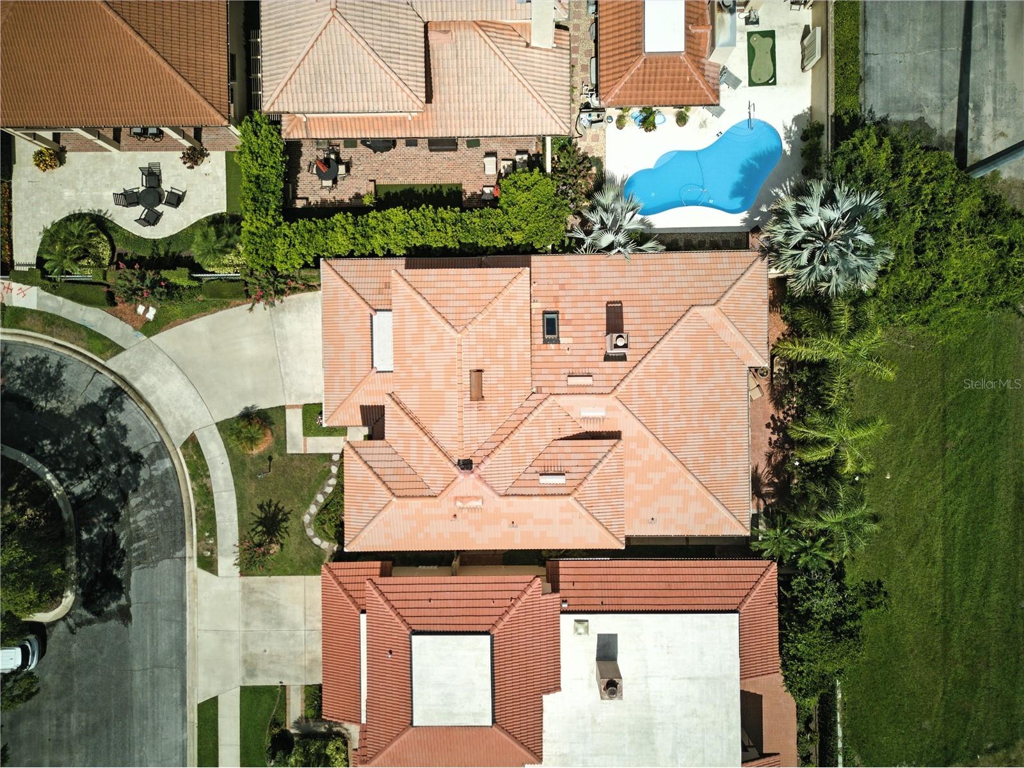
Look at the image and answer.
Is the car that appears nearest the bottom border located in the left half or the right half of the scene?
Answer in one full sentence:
The car that appears nearest the bottom border sits on the left side.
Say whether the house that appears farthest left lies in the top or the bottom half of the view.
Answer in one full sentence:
It is in the top half that the house that appears farthest left appears.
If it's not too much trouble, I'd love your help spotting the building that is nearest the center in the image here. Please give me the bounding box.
[319,249,771,553]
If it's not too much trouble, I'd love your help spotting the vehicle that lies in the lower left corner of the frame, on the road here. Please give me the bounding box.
[0,629,42,674]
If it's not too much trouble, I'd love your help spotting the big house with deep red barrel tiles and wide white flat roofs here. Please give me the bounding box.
[320,553,797,768]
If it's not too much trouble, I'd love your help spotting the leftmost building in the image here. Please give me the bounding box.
[0,0,245,151]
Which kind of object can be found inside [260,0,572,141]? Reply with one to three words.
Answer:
house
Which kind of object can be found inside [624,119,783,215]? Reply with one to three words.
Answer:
swimming pool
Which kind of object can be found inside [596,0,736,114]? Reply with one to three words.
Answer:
house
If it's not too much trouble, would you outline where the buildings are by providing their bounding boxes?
[596,0,736,114]
[260,0,572,141]
[319,249,771,553]
[0,0,245,151]
[320,553,797,768]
